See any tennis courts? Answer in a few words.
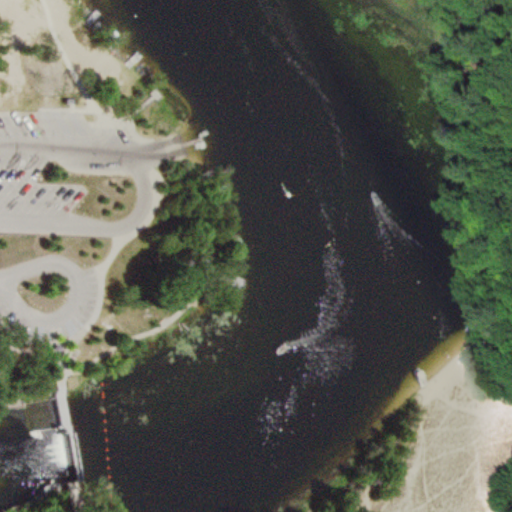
No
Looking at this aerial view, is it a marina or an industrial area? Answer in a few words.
marina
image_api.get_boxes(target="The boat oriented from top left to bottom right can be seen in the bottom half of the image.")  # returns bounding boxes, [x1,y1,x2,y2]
[414,368,430,387]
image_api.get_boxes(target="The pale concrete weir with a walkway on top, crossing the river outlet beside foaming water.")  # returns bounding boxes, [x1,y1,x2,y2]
[58,380,84,504]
